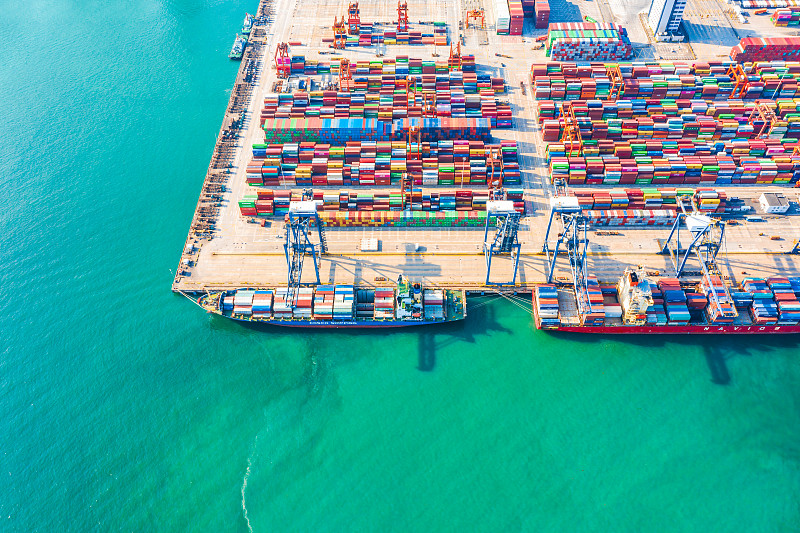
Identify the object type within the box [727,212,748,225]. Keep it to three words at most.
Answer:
vehicle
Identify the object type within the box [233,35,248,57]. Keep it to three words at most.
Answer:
boat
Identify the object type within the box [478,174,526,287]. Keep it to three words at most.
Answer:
container crane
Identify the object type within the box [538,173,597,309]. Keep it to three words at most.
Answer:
container crane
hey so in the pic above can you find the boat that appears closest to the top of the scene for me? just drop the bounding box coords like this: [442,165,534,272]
[241,13,254,35]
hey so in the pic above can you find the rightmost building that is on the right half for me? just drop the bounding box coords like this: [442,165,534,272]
[761,193,798,214]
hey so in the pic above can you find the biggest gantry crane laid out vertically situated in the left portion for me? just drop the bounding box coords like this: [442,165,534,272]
[277,176,330,309]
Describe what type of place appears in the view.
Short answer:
port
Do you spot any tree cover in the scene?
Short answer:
No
